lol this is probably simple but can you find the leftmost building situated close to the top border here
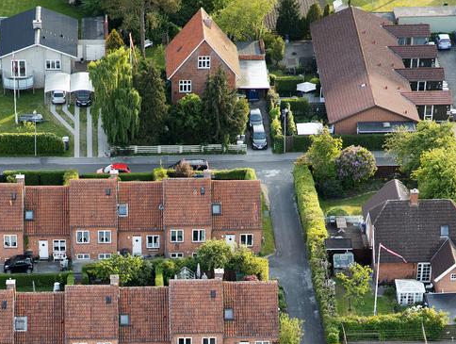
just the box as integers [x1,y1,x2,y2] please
[0,2,75,95]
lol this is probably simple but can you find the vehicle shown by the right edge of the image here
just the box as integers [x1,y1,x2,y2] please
[436,33,453,52]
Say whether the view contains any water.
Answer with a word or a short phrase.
No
